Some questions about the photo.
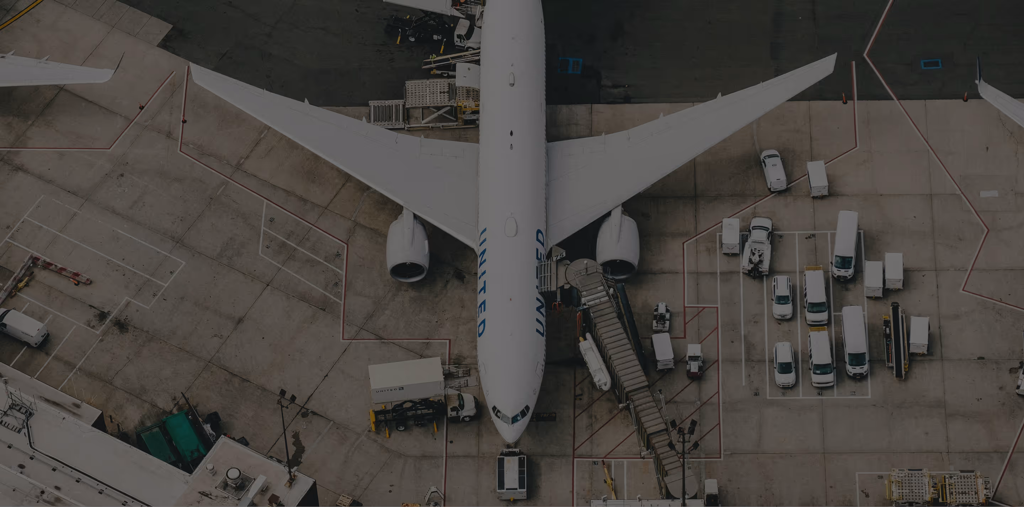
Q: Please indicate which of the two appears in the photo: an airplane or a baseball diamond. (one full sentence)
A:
It is an airplane that can be seen here.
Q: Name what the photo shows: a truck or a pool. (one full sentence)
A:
Looking from above, you can make out a truck.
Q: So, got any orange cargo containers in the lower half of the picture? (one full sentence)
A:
No, I can find no orange cargo container in the lower half of the picture.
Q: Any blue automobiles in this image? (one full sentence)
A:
No, no blue automobile can be seen from above.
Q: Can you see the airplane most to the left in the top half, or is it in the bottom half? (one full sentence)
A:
The top half of the photo is where the airplane most to the left is.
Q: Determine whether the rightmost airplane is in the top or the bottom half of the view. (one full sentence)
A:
The rightmost airplane is in the top half of the image.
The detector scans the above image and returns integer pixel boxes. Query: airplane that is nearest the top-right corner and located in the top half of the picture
[975,56,1024,126]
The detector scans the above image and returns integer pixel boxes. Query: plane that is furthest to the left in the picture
[0,49,125,86]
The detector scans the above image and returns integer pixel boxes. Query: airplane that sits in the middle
[190,0,837,445]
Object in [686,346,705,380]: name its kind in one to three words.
work vehicle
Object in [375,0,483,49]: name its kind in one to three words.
truck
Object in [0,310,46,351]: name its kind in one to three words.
van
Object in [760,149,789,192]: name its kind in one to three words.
car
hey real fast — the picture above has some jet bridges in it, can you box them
[540,245,699,499]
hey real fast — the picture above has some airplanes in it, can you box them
[975,56,1024,126]
[0,49,125,86]
[190,0,837,445]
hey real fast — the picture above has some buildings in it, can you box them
[590,498,705,507]
[0,361,317,507]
